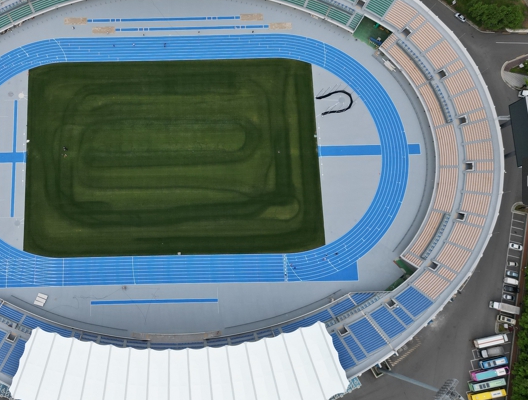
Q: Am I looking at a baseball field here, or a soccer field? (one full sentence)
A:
Looking from above, you can make out a soccer field.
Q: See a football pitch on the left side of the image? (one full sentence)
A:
Yes, a football pitch shows up on the left side of the image.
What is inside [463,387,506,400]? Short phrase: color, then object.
yellow vehicle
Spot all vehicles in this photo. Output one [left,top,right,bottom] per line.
[474,356,508,371]
[501,277,517,286]
[466,365,510,381]
[506,261,517,268]
[464,376,506,392]
[494,315,517,325]
[477,347,506,359]
[503,285,517,293]
[486,301,522,315]
[505,270,519,278]
[468,333,508,349]
[453,14,466,24]
[463,387,506,400]
[508,243,522,251]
